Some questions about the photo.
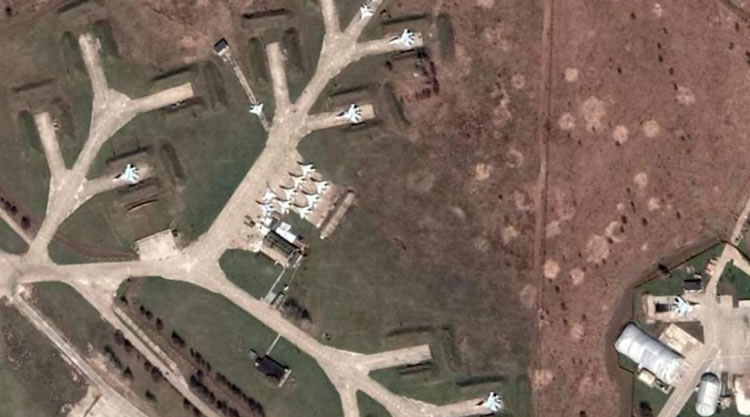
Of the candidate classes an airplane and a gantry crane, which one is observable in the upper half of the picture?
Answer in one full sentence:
The feature located in the upper half of the picture is an airplane.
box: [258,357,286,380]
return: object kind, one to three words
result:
house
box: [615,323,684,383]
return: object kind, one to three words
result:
hangar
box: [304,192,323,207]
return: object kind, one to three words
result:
airplane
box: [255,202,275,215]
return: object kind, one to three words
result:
airplane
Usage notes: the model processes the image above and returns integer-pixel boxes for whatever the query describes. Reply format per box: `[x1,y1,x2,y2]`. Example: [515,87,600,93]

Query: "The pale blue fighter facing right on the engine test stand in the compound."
[672,298,700,317]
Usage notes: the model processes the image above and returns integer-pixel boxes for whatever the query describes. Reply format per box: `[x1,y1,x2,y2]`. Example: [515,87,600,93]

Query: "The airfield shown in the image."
[0,0,498,417]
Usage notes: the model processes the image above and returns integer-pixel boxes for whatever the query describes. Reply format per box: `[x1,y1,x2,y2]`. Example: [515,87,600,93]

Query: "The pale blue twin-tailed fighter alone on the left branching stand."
[113,164,139,183]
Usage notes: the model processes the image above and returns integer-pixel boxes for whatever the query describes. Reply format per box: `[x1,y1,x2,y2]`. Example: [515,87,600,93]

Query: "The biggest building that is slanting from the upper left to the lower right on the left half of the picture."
[264,228,299,259]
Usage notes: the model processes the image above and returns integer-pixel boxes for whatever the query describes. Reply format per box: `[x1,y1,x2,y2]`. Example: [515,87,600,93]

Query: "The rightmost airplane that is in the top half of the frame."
[387,30,415,49]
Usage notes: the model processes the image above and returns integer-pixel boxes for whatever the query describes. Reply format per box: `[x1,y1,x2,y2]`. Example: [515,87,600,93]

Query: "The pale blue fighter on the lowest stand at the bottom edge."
[474,392,502,410]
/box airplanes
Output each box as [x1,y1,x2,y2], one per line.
[474,392,502,410]
[312,180,332,194]
[289,174,308,188]
[304,192,323,207]
[387,30,415,49]
[672,298,700,317]
[249,99,263,119]
[294,204,314,218]
[255,202,275,215]
[297,165,317,179]
[275,199,294,213]
[279,186,298,200]
[334,104,363,123]
[262,185,277,205]
[113,164,139,183]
